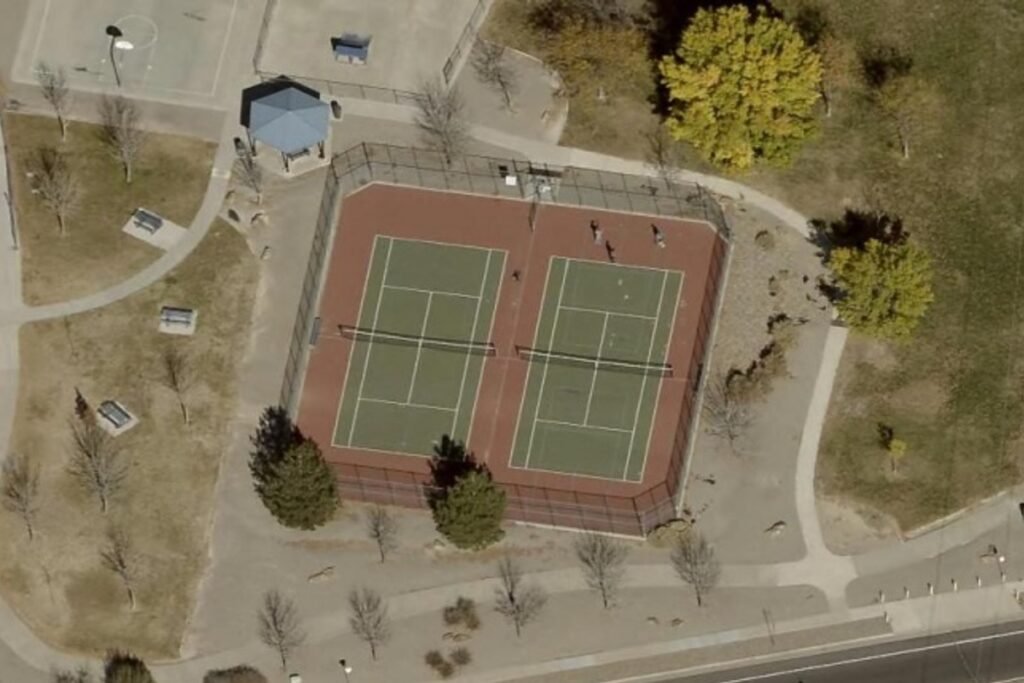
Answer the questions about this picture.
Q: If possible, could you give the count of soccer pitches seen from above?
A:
zero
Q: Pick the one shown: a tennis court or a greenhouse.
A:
tennis court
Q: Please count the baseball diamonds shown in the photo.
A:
0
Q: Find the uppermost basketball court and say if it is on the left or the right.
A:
left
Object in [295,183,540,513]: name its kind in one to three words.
tennis court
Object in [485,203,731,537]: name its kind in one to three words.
tennis court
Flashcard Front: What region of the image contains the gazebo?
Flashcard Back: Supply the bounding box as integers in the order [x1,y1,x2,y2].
[252,87,330,173]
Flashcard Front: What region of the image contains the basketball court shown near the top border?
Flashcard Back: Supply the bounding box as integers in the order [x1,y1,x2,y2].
[12,0,239,110]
